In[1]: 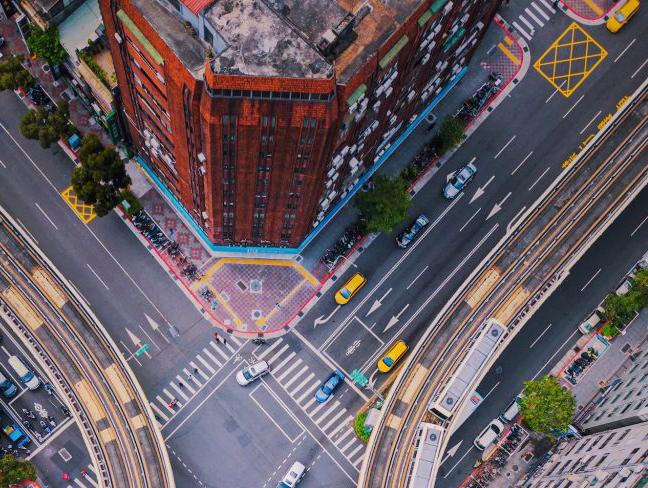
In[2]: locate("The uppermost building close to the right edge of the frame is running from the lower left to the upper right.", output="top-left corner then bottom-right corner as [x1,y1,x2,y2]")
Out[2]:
[574,348,648,431]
